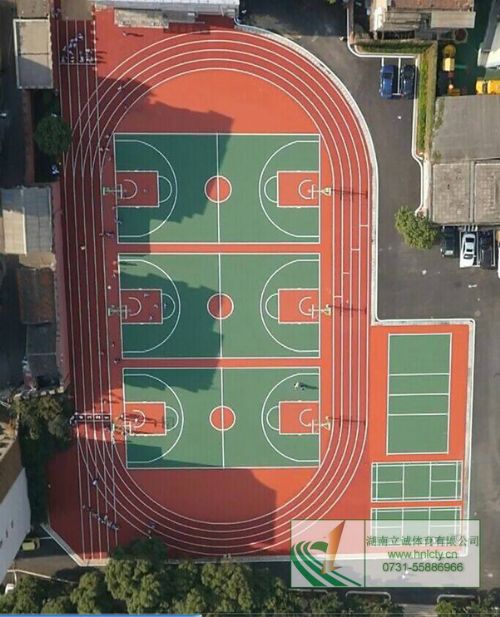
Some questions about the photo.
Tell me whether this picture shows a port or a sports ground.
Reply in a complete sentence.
This looks like a sports ground.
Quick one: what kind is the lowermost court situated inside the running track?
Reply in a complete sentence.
I'd identify the lowermost court situated inside the running track as a basketball court.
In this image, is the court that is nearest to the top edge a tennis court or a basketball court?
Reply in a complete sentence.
From above, the court that is nearest to the top edge can be identified as a basketball court.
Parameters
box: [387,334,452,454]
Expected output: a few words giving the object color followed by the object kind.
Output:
green sports court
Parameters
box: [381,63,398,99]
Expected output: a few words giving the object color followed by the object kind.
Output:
blue car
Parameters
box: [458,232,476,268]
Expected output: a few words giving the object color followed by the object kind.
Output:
white car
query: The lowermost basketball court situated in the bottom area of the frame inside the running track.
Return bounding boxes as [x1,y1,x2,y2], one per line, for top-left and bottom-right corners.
[123,368,320,468]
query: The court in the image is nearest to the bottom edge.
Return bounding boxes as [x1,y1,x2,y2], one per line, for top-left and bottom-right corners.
[371,507,461,546]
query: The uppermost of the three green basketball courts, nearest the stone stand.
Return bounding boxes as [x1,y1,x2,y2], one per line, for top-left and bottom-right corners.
[114,132,321,245]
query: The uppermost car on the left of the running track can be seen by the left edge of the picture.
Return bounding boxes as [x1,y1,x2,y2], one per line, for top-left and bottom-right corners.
[19,538,41,553]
